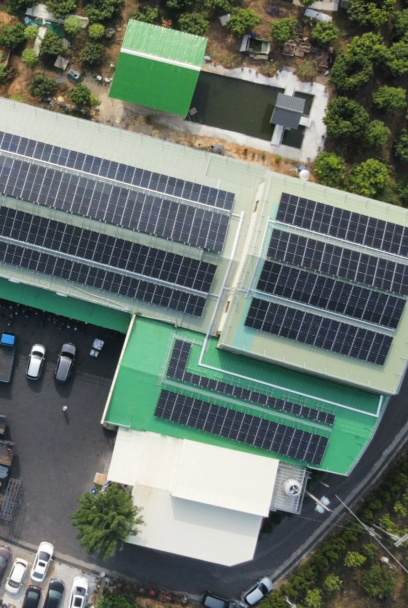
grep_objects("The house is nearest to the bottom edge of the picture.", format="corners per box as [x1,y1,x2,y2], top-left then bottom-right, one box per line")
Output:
[107,427,279,566]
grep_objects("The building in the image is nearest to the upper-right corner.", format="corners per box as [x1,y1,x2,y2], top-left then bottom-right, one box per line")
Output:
[265,87,313,145]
